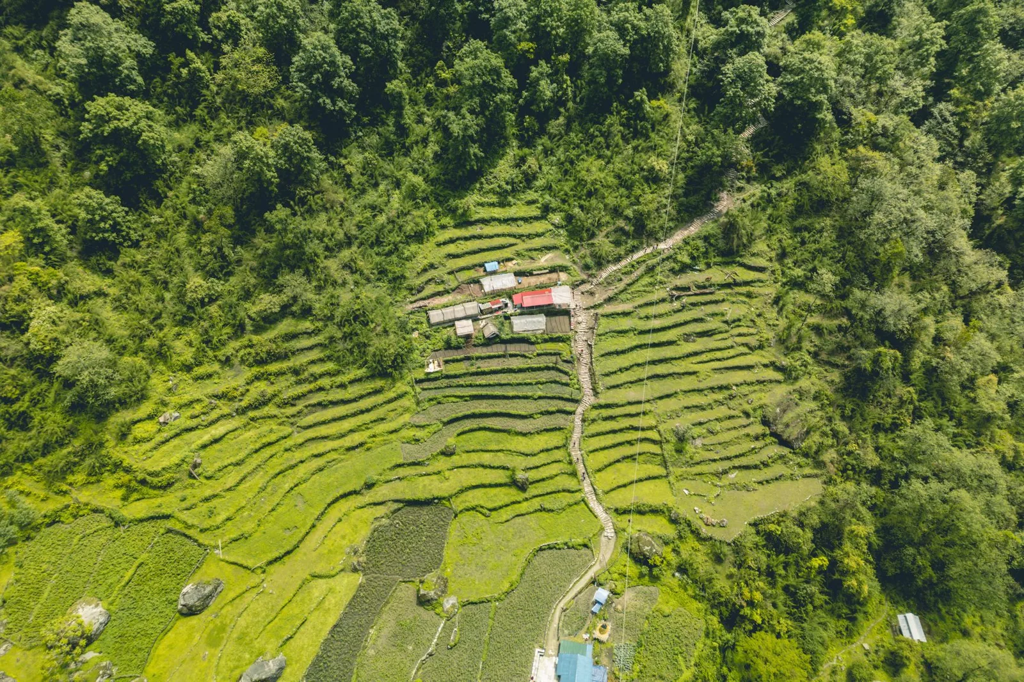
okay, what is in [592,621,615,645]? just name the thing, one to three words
building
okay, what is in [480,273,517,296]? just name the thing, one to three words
barn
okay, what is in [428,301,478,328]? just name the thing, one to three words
shed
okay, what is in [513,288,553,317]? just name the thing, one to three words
house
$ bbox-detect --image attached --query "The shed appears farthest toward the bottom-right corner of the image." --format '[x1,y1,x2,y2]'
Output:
[895,613,927,643]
